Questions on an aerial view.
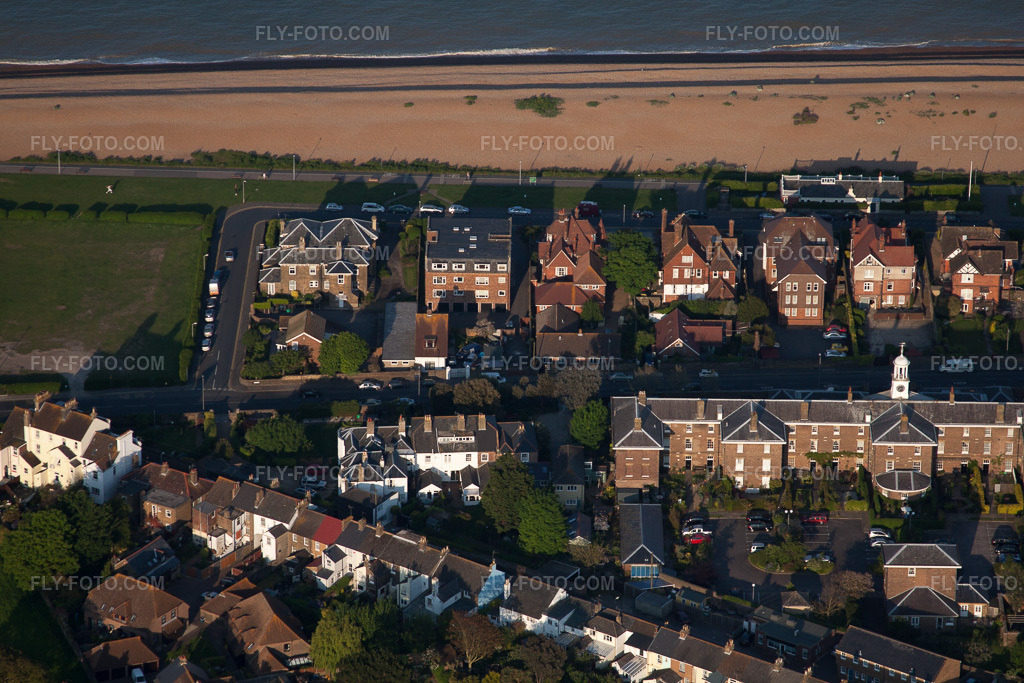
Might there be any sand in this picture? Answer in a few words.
Yes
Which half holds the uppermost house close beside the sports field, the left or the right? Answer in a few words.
left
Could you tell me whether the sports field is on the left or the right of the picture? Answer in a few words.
left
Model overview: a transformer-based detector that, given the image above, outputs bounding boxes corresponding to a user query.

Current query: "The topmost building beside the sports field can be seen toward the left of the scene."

[258,214,377,306]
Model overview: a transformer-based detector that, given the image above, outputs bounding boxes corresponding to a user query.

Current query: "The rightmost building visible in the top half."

[935,225,1019,317]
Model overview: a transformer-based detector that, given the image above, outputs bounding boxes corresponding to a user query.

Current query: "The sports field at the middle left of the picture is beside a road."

[0,225,201,381]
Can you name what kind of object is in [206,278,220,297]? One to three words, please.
vehicle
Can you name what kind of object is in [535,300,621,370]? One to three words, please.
house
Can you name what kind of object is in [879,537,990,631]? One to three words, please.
building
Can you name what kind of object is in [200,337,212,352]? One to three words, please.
vehicle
